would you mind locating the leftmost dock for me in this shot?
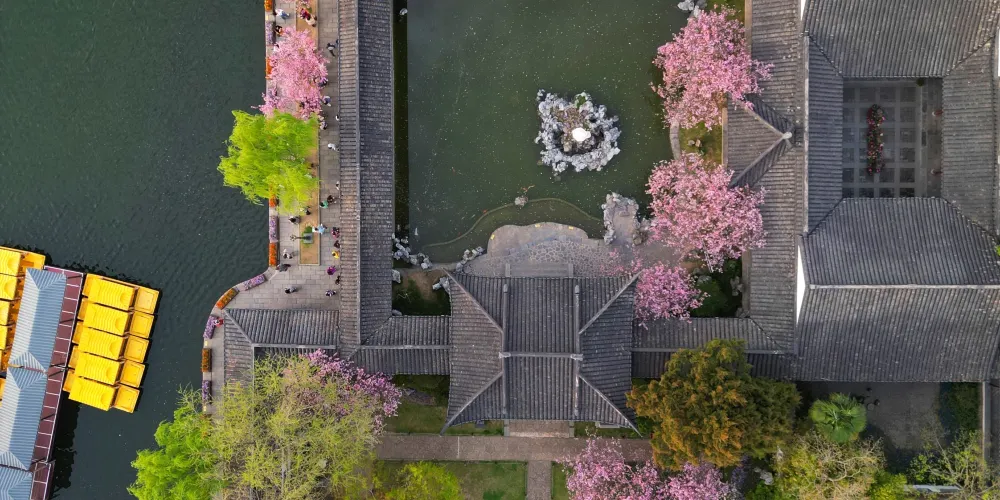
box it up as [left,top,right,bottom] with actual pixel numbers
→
[0,266,88,500]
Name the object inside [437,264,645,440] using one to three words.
building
